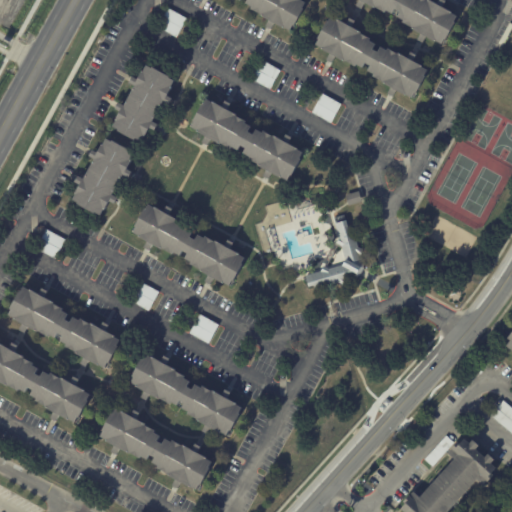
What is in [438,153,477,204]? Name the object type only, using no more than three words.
tennis court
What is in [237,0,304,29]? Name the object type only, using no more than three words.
building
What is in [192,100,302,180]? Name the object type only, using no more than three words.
building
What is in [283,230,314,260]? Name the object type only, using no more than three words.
swimming pool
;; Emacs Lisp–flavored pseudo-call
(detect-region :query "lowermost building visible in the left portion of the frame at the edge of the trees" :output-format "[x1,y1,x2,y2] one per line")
[100,410,211,489]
